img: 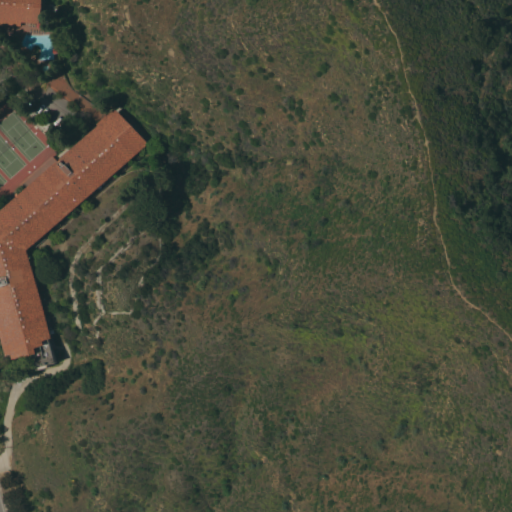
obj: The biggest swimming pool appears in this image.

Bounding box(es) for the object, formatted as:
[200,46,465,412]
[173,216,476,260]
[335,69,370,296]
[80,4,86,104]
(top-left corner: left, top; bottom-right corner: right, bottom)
[22,34,55,62]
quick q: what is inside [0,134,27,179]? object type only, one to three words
tennis court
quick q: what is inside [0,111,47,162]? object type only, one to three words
tennis court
